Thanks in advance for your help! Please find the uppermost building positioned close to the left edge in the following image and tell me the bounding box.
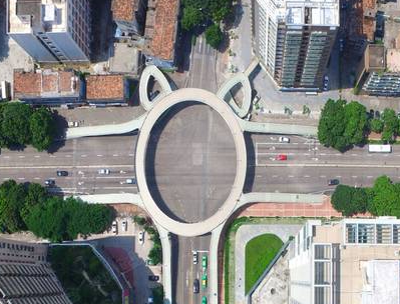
[6,0,93,63]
